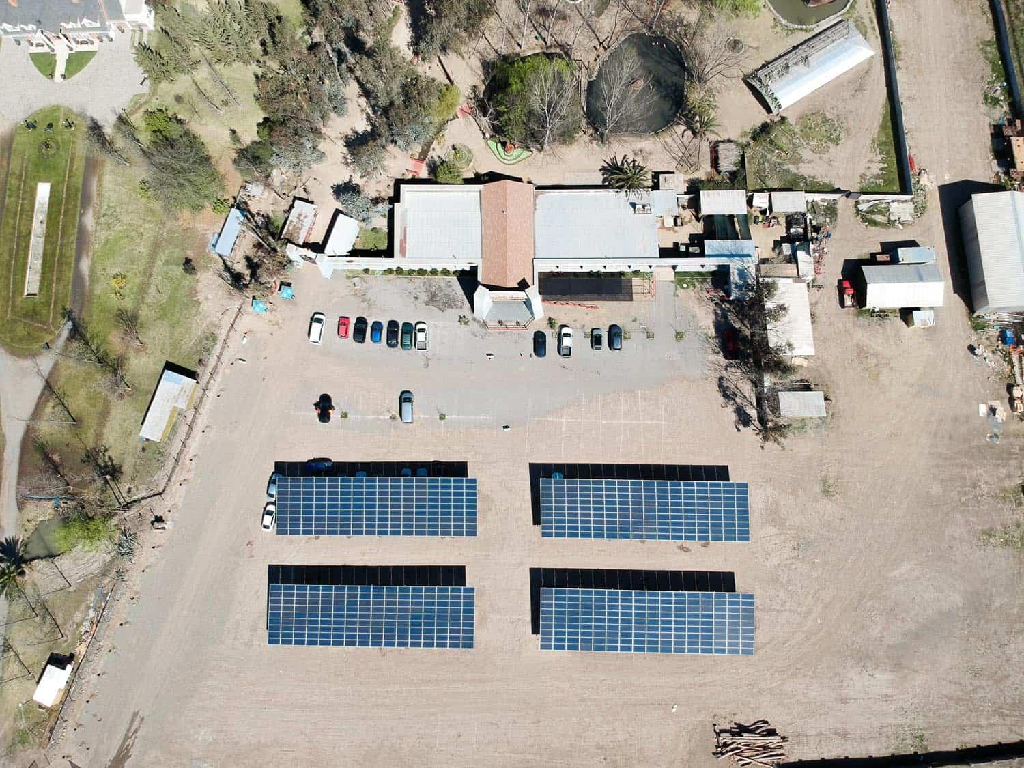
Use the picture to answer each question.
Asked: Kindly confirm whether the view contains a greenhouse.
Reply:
Yes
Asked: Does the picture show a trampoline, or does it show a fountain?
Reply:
fountain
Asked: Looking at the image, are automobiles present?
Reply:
Yes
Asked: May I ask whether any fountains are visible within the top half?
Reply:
Yes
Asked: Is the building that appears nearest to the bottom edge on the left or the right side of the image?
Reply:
left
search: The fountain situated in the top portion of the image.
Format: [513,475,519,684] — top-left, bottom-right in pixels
[486,138,533,164]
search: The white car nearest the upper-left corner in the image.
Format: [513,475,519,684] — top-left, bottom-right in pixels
[309,313,326,344]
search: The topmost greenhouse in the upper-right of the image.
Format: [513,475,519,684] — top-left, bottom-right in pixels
[749,22,872,114]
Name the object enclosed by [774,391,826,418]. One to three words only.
shed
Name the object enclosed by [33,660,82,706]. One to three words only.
building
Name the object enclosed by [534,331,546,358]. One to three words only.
vehicle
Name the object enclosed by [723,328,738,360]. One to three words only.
vehicle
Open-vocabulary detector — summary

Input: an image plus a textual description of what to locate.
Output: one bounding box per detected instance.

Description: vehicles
[353,316,369,344]
[263,502,276,531]
[609,325,623,352]
[313,394,337,423]
[534,331,546,358]
[264,473,281,502]
[338,316,350,339]
[387,321,400,349]
[591,328,603,351]
[305,460,335,475]
[433,465,447,495]
[401,392,414,422]
[416,471,428,477]
[400,323,414,350]
[415,322,428,351]
[723,328,738,360]
[559,327,573,357]
[370,321,384,344]
[840,280,856,309]
[309,313,326,344]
